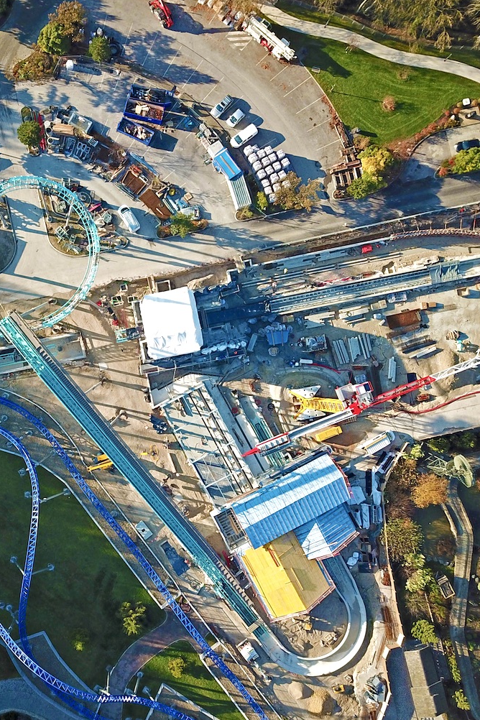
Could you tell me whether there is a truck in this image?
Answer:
Yes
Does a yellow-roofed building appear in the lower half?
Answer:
Yes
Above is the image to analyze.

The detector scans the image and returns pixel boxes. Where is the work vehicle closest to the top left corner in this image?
[149,0,173,29]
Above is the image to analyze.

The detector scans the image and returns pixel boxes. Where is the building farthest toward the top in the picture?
[139,288,205,360]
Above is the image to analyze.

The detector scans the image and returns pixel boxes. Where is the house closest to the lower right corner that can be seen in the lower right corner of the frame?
[400,641,448,718]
